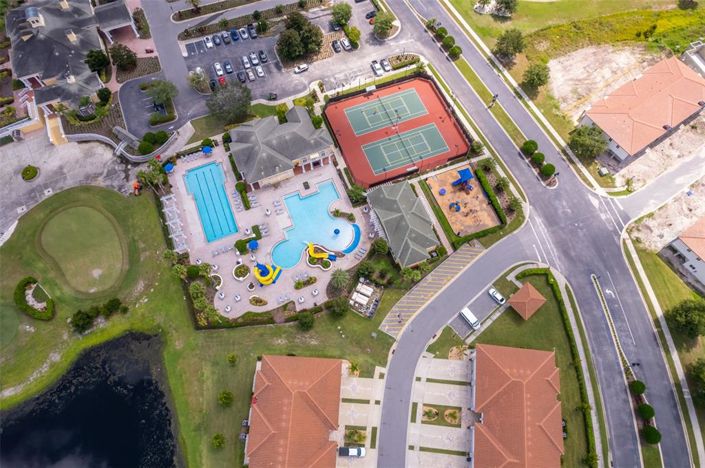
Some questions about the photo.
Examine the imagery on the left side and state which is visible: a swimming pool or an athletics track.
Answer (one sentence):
There is a swimming pool on the left side.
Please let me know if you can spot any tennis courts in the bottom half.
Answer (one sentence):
No, I can find no tennis court in the bottom half.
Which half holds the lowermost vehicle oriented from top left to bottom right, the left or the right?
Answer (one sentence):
It is on the right.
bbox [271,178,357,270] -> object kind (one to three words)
swimming pool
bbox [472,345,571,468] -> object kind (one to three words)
house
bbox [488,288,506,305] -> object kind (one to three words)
car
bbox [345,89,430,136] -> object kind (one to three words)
tennis court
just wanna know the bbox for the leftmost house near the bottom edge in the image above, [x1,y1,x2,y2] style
[243,356,341,468]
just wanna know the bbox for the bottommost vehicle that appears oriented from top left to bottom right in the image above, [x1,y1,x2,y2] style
[461,304,482,330]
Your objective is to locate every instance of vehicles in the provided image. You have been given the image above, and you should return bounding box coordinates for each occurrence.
[461,304,482,330]
[364,10,376,18]
[339,447,366,457]
[255,65,264,77]
[221,32,230,43]
[224,61,233,72]
[240,28,248,38]
[366,17,375,25]
[230,28,239,40]
[293,64,308,73]
[331,19,340,30]
[258,50,267,61]
[241,56,250,67]
[246,69,255,81]
[248,51,259,65]
[246,23,257,36]
[204,37,213,48]
[237,71,245,83]
[214,63,222,74]
[488,288,506,305]
[332,40,341,52]
[371,59,382,74]
[212,34,220,45]
[381,56,390,70]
